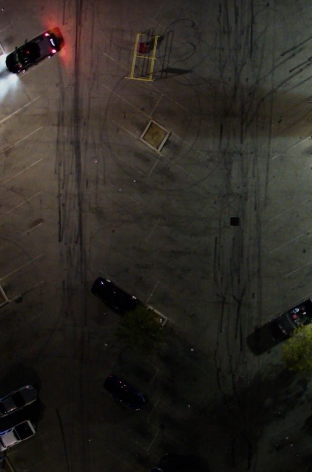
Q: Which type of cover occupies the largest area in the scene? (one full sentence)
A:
What you mostly see from above here is paved ground.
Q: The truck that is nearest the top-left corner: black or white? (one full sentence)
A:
From above, the truck that is nearest the top-left corner appears black.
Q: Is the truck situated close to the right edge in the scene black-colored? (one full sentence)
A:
Yes, the truck situated close to the right edge is black.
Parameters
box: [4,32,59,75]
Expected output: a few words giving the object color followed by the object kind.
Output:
black truck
